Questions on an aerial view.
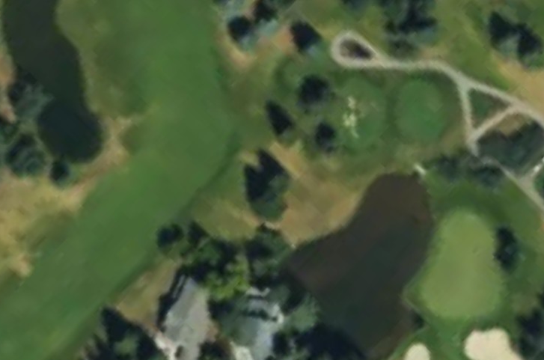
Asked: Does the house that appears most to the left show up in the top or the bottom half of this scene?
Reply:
bottom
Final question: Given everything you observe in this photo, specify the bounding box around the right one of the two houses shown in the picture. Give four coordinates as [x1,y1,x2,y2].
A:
[230,292,282,360]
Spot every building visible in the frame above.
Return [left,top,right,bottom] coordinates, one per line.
[230,292,282,360]
[158,272,211,352]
